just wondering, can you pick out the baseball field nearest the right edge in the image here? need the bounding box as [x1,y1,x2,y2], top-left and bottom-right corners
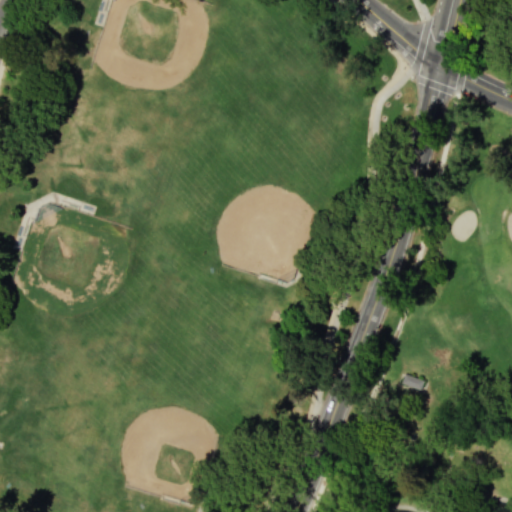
[217,185,314,282]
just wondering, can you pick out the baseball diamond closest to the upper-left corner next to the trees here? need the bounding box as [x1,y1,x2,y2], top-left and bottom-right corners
[94,0,210,90]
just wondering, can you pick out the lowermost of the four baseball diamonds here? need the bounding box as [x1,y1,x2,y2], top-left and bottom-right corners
[122,406,218,502]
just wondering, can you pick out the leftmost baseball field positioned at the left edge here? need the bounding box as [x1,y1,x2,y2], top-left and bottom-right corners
[16,205,132,315]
